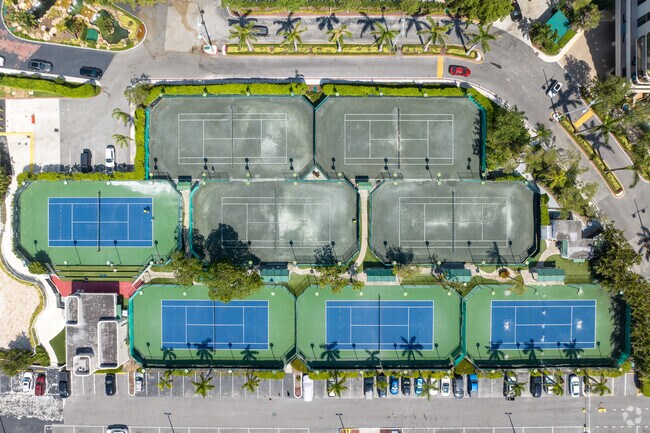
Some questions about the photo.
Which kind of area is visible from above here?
sports ground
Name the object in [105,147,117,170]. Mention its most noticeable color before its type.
white vehicle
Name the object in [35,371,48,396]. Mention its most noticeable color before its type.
red vehicle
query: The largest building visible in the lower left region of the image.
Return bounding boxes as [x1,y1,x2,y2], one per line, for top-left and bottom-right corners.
[66,291,136,377]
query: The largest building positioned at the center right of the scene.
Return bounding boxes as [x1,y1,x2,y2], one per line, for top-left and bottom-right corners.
[543,220,604,263]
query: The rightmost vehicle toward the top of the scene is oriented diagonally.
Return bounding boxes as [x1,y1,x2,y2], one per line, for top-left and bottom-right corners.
[546,79,564,97]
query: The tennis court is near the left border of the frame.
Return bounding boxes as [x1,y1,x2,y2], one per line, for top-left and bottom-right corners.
[19,181,182,264]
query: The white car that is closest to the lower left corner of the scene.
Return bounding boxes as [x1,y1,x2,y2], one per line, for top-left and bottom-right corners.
[23,370,35,392]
